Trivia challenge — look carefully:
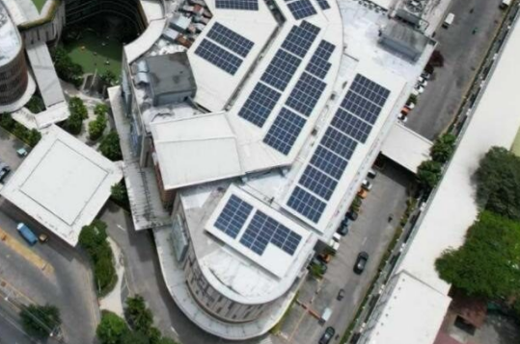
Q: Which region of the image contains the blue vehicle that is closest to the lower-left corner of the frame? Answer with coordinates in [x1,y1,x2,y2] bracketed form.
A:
[16,221,38,248]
